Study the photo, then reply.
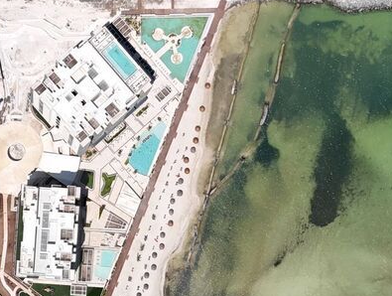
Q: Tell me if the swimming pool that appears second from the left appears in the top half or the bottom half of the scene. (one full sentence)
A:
Seen from above, the swimming pool that appears second from the left lies in the top half of the view.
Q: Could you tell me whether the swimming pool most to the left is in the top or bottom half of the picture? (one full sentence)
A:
The swimming pool most to the left sits in the bottom half of the picture.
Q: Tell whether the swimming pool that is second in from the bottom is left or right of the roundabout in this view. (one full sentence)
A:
The roundabout has the swimming pool that is second in from the bottom on its right side.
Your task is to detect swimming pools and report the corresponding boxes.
[94,247,121,283]
[127,120,169,176]
[141,15,213,84]
[112,44,136,73]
